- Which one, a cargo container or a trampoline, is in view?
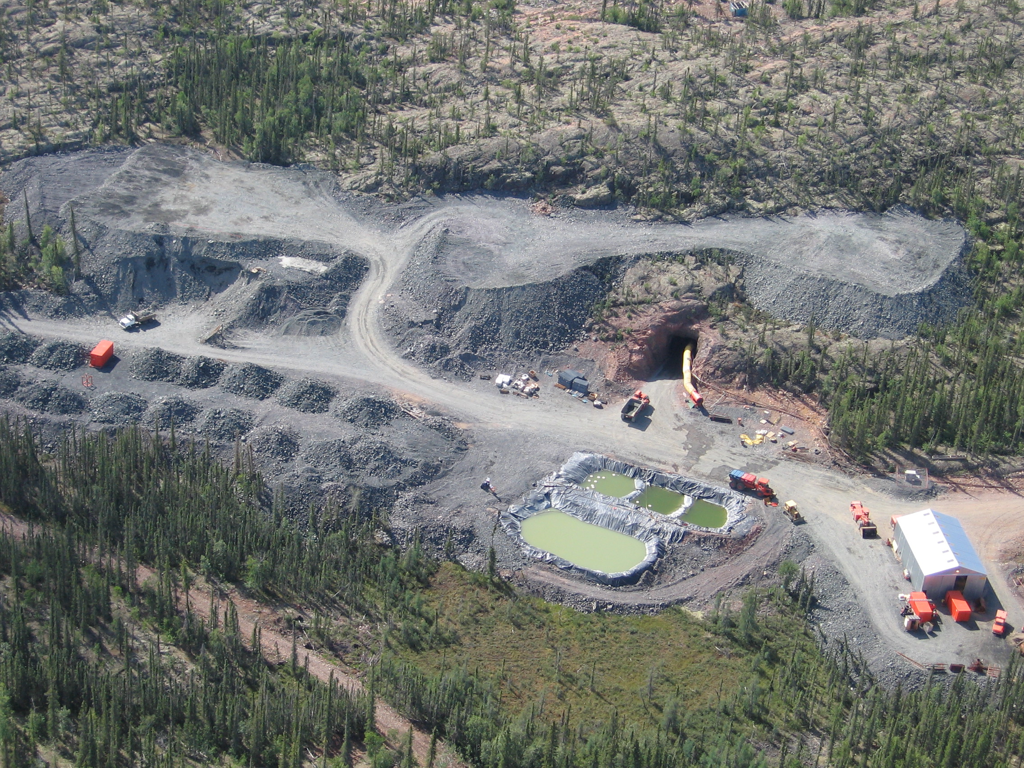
cargo container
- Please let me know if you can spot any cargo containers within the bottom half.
Yes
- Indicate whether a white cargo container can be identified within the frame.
No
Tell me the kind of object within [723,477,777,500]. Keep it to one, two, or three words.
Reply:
truck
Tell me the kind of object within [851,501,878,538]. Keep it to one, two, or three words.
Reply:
work vehicle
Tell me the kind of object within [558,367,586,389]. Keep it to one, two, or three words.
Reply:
shed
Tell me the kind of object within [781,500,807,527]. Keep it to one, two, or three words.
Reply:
work vehicle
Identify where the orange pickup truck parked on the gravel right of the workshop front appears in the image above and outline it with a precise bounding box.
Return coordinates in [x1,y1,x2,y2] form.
[993,609,1009,634]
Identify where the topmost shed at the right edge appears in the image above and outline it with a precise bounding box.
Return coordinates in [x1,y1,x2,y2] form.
[898,506,990,592]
